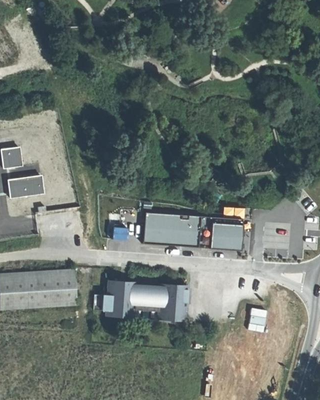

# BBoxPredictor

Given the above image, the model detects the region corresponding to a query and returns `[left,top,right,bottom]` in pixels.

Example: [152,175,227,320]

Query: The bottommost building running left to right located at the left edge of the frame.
[0,270,78,312]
